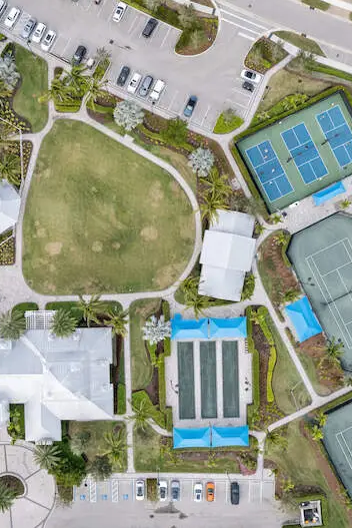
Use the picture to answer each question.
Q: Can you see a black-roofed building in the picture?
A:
No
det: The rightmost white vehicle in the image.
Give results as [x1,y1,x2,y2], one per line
[240,69,261,81]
